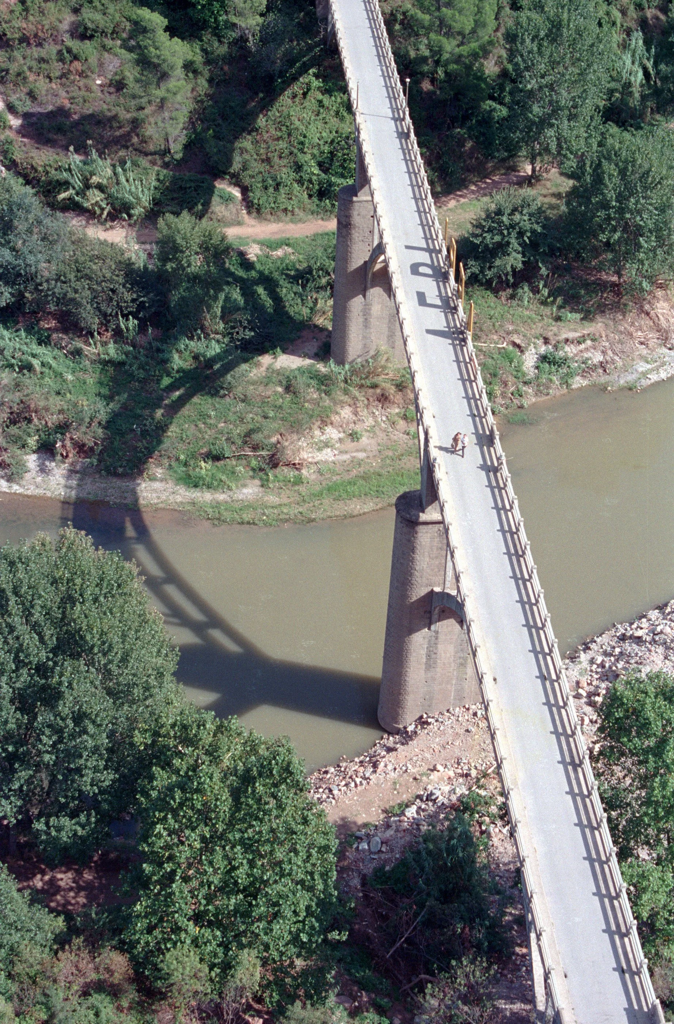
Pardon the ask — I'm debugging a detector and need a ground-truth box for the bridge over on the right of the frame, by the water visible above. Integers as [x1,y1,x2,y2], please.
[300,0,668,1024]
